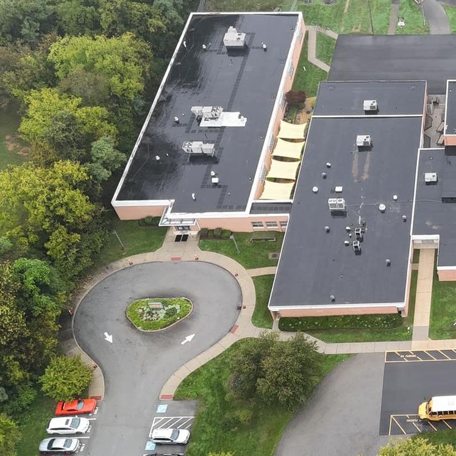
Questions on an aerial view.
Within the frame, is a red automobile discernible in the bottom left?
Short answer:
Yes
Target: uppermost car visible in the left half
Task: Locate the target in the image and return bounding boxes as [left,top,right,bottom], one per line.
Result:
[54,397,98,416]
